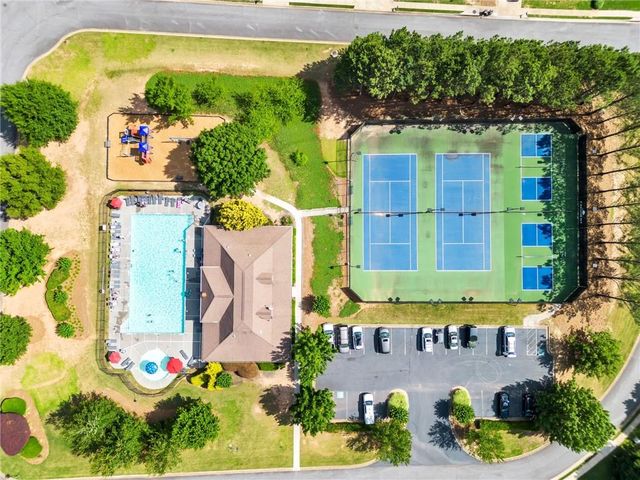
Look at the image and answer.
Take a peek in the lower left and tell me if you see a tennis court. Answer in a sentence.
No, no tennis court appears in the lower left.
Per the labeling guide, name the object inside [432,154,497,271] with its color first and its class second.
blue tennis court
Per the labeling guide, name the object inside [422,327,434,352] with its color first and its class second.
white vehicle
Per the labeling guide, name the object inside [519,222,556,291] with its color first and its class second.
blue sports court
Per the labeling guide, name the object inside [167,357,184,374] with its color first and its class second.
red umbrella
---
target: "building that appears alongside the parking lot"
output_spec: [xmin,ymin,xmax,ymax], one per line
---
[200,224,293,362]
